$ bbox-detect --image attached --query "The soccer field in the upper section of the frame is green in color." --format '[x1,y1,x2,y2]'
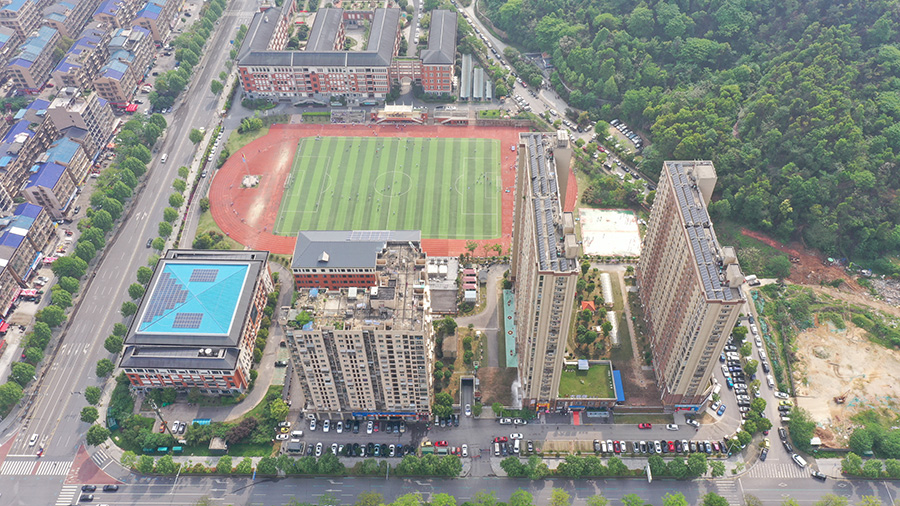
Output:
[270,137,503,238]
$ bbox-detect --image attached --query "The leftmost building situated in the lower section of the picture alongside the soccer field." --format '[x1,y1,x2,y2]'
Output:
[115,250,271,392]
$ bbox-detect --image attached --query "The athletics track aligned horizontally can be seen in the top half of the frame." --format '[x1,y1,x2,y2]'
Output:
[209,124,579,258]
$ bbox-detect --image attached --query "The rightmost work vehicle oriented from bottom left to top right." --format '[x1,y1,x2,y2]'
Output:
[831,387,854,405]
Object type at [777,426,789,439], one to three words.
vehicle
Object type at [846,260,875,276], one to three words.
work vehicle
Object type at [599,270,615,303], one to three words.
greenhouse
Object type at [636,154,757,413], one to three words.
building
